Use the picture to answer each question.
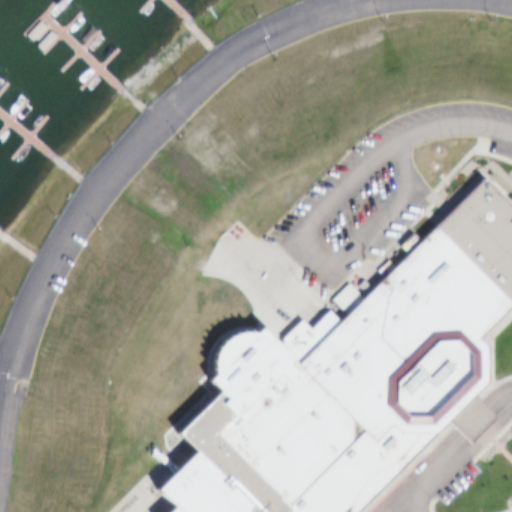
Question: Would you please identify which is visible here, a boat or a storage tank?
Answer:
boat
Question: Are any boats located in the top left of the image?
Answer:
Yes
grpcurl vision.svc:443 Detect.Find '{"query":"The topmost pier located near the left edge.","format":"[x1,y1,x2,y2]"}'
[23,4,148,111]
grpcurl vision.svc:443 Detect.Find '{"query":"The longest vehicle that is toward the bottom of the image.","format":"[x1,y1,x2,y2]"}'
[147,444,172,468]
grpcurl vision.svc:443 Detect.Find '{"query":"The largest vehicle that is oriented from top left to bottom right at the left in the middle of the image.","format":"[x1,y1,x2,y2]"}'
[74,234,90,250]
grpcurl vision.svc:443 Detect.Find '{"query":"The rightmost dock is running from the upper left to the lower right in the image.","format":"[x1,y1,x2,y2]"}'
[138,0,215,50]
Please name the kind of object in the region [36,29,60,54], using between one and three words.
boat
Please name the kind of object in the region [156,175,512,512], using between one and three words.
building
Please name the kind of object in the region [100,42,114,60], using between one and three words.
boat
